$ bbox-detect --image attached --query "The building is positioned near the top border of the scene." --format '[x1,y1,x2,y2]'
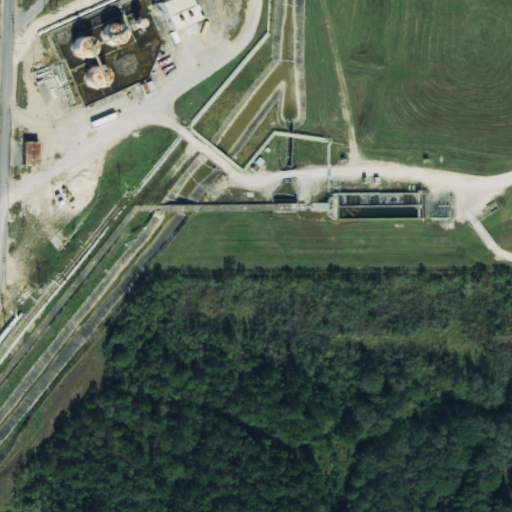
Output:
[158,0,206,32]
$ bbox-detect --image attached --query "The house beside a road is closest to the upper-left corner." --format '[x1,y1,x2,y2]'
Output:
[24,142,41,166]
